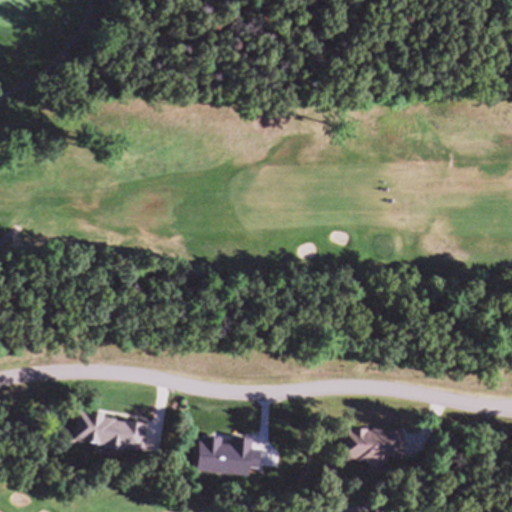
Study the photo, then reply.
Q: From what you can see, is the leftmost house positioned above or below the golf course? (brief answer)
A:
below it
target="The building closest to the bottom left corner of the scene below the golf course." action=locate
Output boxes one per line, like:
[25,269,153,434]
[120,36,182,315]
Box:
[68,408,144,450]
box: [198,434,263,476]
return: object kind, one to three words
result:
house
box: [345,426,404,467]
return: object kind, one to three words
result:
house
